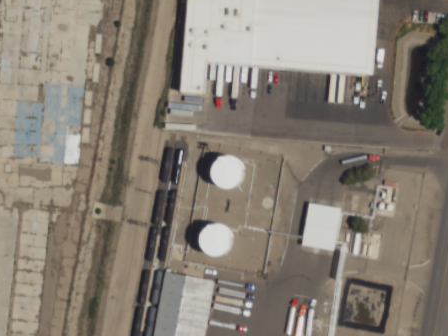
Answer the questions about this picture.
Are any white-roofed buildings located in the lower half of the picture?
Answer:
Yes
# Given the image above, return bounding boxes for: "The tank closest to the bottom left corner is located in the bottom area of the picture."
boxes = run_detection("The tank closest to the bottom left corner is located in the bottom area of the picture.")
[200,222,235,258]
